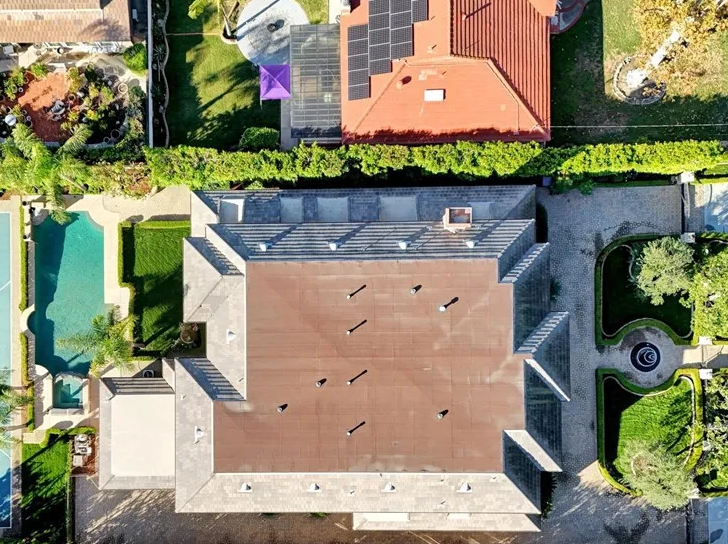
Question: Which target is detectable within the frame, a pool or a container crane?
pool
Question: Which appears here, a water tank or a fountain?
fountain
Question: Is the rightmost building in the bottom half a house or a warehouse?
house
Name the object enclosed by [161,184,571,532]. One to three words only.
house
